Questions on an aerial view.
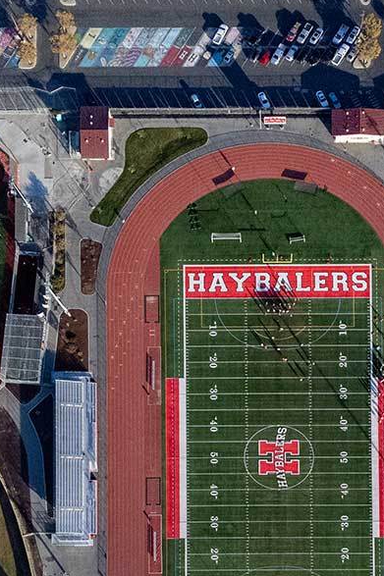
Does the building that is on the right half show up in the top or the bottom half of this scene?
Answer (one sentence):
You can find the building that is on the right half in the top half.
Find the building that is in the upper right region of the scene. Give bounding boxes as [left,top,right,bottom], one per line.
[332,106,384,141]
